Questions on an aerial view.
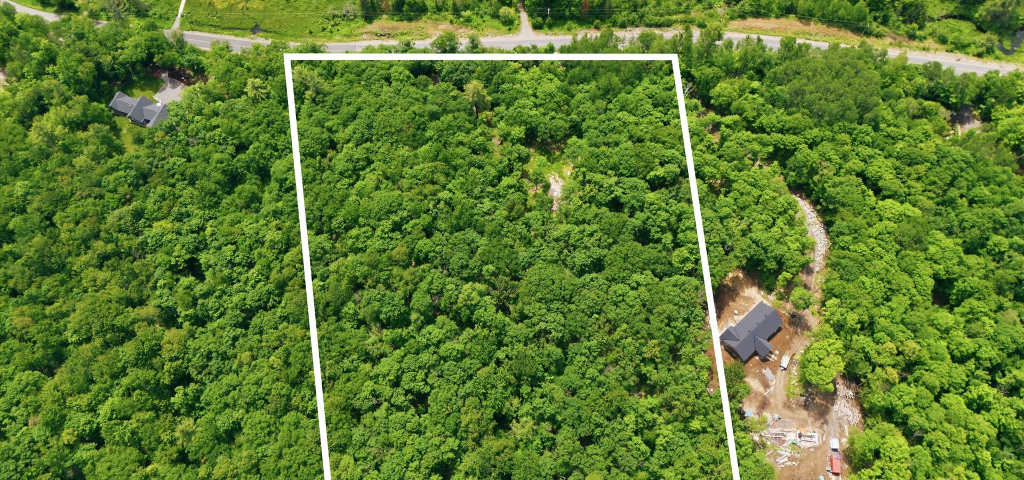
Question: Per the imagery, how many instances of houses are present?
2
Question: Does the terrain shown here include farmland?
No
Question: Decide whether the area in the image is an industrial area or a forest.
forest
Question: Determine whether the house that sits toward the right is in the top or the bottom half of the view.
bottom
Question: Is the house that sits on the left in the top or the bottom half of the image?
top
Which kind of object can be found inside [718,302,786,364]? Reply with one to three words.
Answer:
house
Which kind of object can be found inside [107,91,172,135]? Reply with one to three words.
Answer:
house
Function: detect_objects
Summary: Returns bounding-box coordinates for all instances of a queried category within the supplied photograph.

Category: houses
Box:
[718,302,786,364]
[107,91,172,135]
